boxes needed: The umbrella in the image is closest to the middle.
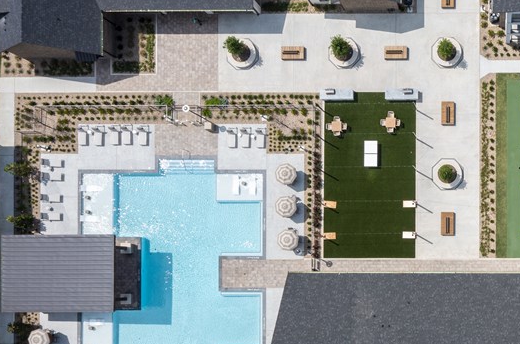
[276,164,297,184]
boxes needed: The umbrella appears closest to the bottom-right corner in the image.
[277,230,299,250]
